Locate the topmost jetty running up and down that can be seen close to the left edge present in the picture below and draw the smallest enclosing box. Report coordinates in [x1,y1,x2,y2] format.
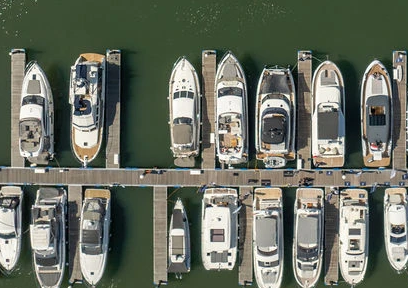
[11,48,26,167]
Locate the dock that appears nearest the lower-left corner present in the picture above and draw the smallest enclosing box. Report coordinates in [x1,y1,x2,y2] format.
[68,186,82,284]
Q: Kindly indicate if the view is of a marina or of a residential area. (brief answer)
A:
marina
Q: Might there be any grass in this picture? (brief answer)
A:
No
